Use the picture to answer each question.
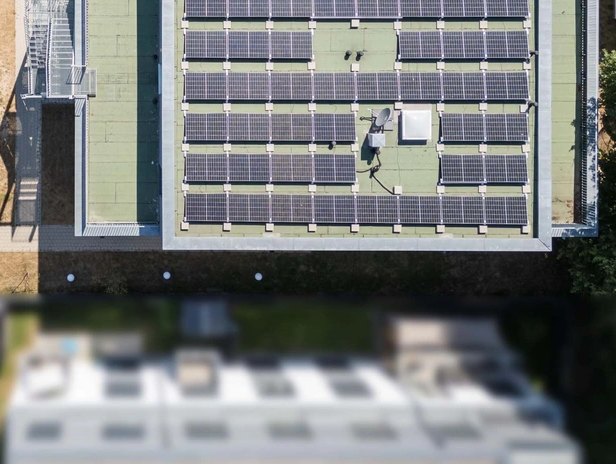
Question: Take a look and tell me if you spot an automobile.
No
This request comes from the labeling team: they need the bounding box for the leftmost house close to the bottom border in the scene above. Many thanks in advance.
[5,357,164,464]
